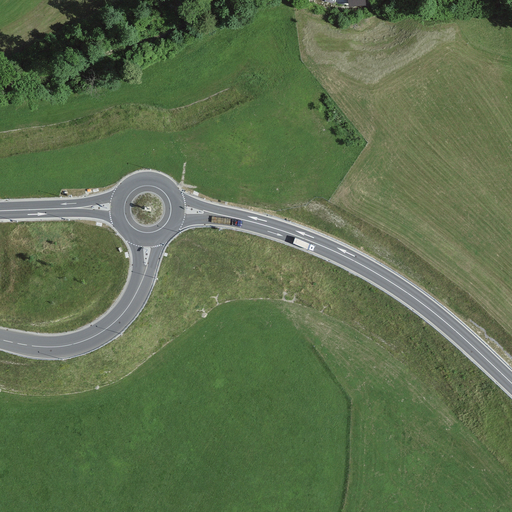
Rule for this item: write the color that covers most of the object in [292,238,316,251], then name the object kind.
white vehicle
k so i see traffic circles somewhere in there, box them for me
[110,171,186,247]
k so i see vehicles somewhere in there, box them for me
[210,217,242,227]
[292,238,316,251]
